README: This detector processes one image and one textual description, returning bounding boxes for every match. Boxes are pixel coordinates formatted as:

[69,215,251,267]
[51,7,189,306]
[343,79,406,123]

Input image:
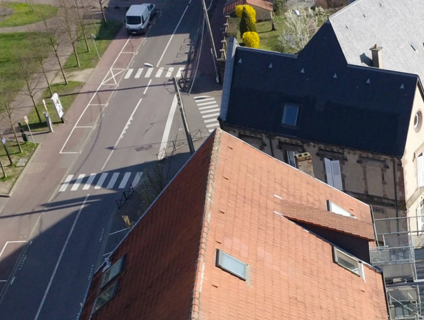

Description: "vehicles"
[144,1,159,17]
[124,3,149,32]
